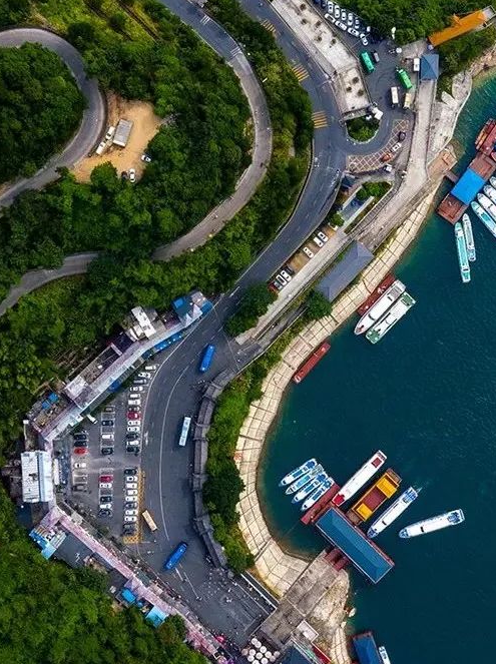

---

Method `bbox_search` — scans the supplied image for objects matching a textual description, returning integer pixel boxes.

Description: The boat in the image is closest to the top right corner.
[474,120,495,150]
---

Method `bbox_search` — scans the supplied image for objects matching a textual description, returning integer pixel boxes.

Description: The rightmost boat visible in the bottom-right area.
[398,509,466,536]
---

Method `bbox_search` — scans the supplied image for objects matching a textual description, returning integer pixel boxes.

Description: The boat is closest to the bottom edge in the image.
[378,644,390,664]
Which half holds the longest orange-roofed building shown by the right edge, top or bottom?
top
